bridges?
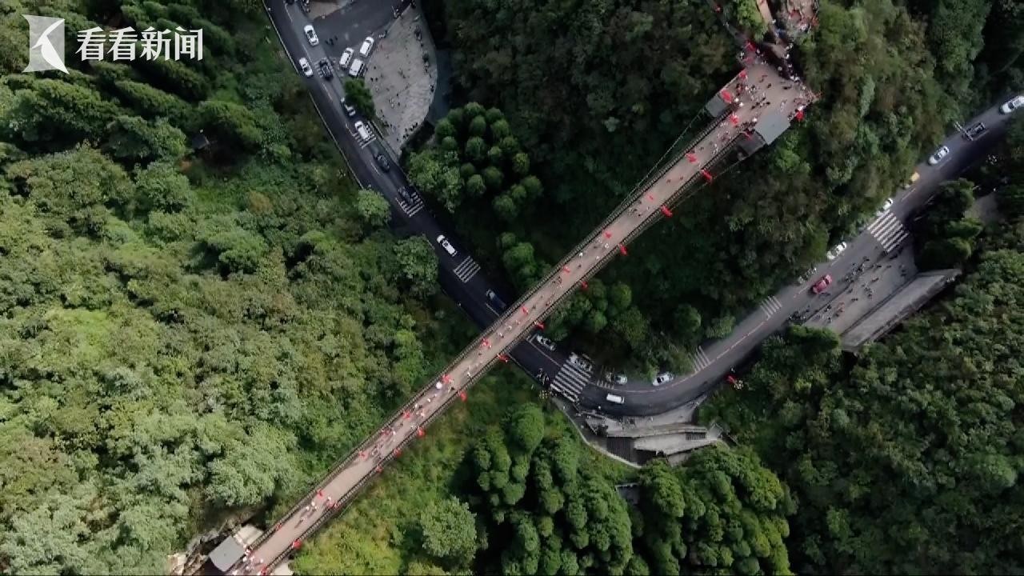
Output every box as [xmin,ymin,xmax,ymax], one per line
[218,94,766,576]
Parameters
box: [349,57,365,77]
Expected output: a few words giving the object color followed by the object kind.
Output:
white vehicle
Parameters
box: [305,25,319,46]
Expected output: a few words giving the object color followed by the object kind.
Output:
white car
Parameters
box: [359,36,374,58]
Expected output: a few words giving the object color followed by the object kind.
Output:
white vehicle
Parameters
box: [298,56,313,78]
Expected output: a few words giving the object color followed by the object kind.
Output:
white car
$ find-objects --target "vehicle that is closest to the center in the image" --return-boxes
[487,291,506,310]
